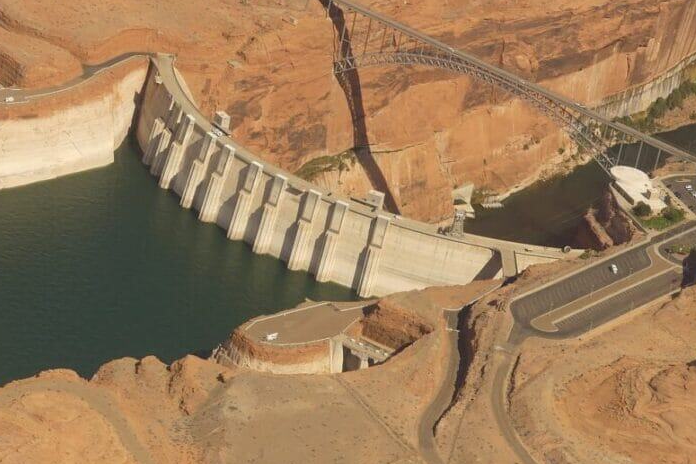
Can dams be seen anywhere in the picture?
Yes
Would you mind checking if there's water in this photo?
Yes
